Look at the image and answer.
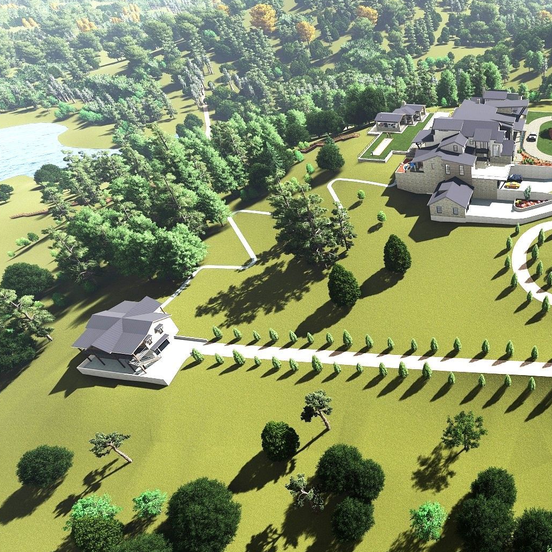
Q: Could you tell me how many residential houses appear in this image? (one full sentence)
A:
The photo contains 2 residential houses.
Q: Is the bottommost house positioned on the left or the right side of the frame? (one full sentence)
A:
The bottommost house is on the left side of the image.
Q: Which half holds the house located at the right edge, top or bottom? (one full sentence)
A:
The house located at the right edge is in the top half of the image.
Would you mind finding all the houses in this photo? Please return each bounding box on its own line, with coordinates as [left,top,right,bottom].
[394,88,529,222]
[70,295,179,374]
